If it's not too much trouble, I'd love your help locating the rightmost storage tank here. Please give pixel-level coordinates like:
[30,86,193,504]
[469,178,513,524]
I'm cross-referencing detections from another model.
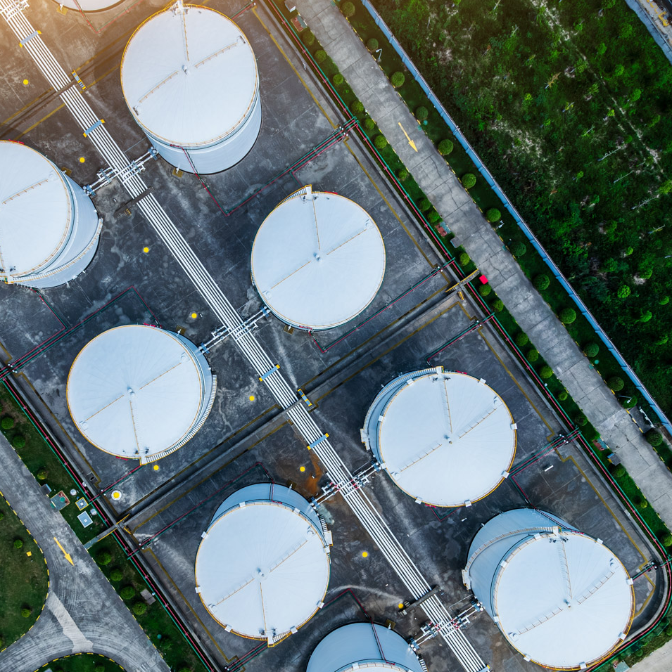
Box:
[463,506,636,671]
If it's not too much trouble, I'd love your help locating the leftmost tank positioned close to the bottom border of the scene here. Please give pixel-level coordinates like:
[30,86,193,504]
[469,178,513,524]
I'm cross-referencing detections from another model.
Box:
[192,477,334,650]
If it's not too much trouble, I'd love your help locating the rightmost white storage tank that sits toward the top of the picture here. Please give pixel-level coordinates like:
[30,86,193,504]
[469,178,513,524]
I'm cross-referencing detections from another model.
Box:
[248,180,388,338]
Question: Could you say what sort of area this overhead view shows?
industrial area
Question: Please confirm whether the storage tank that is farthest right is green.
No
